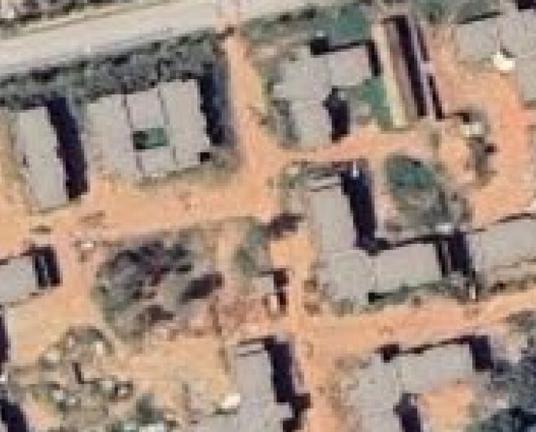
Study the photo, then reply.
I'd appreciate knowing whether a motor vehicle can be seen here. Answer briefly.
No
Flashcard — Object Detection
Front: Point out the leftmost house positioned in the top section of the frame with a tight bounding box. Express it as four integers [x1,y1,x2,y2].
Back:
[17,108,69,213]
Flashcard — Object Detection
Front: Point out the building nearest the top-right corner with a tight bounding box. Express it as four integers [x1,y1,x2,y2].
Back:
[458,3,536,101]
